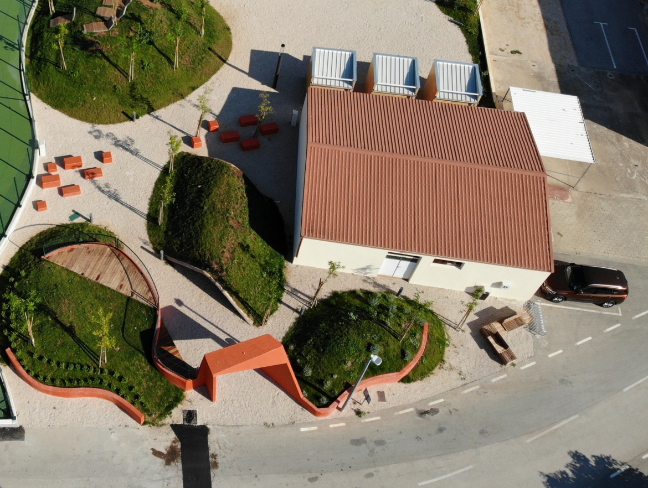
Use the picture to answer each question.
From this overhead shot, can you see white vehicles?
No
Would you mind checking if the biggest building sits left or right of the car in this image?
left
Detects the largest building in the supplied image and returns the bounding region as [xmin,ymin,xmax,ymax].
[292,86,554,298]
